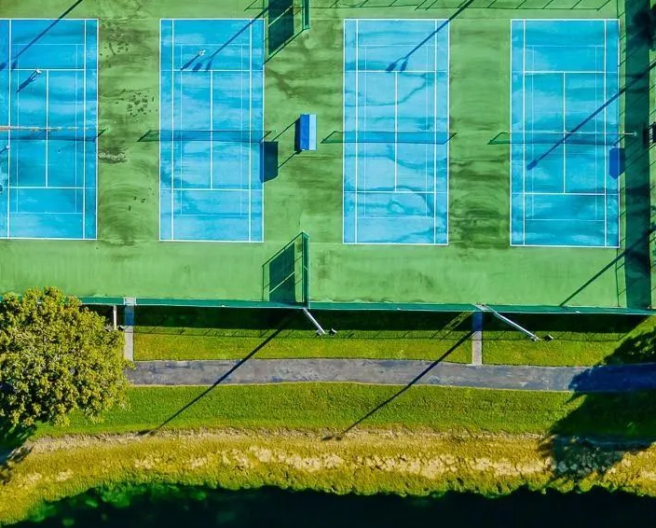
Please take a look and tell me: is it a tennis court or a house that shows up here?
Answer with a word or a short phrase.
tennis court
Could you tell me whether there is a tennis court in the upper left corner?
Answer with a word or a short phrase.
Yes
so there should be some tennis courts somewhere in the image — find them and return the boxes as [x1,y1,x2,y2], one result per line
[159,19,265,243]
[344,19,450,245]
[511,19,620,248]
[0,19,98,241]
